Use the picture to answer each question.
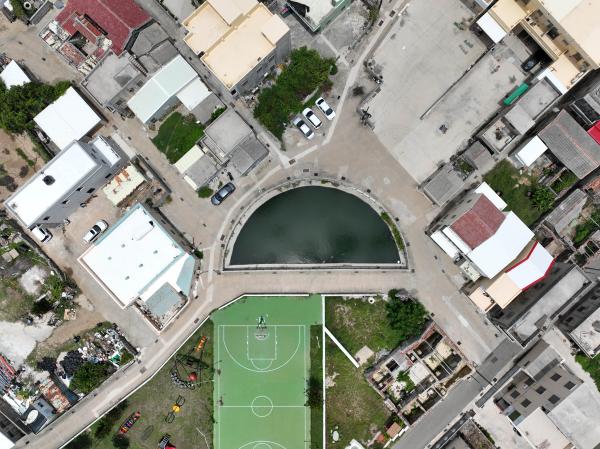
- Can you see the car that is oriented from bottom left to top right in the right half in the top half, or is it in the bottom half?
top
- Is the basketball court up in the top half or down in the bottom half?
bottom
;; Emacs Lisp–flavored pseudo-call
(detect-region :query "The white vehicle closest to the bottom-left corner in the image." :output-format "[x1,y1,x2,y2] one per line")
[29,226,56,244]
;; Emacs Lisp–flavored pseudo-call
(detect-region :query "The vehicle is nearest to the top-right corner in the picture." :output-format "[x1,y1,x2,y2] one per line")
[516,50,544,74]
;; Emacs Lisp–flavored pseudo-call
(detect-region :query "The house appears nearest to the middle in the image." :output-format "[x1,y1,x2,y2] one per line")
[227,131,271,178]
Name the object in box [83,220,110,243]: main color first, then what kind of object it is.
white car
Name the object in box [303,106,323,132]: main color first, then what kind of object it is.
white car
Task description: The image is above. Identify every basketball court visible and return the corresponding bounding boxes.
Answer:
[210,297,322,449]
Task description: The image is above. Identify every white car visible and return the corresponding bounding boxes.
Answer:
[315,97,336,121]
[294,116,315,141]
[29,226,56,244]
[83,220,110,243]
[303,106,323,132]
